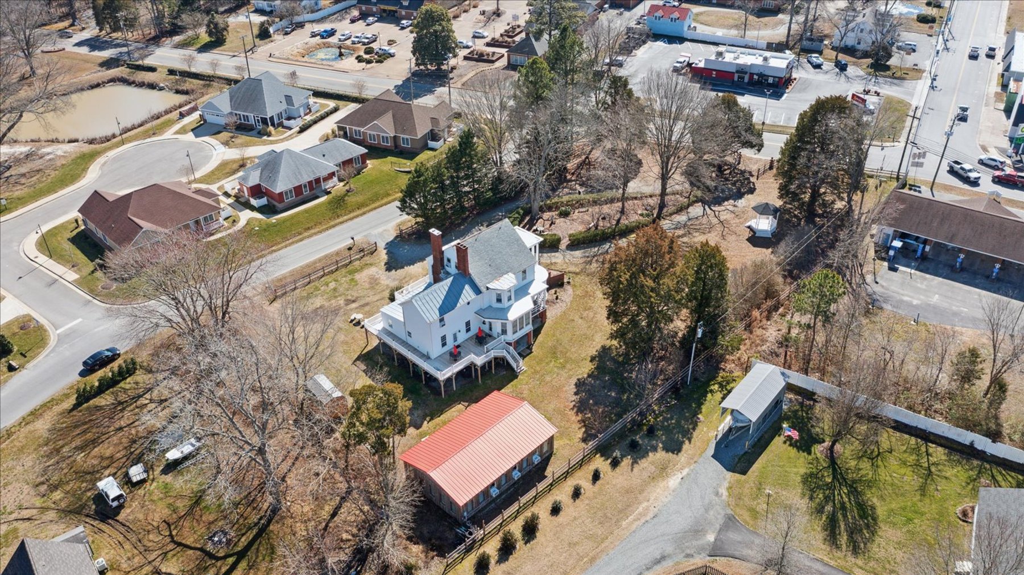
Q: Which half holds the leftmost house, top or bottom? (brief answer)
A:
bottom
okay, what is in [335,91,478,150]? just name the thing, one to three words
house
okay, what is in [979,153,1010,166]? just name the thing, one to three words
vehicle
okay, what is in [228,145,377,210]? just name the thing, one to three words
house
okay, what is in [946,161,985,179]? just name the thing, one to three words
vehicle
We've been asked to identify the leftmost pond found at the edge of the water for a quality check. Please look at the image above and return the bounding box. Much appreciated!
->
[0,84,187,141]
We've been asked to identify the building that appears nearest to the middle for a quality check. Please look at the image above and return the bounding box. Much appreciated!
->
[361,215,565,399]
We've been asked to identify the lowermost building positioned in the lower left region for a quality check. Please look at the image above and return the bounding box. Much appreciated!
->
[4,536,100,575]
